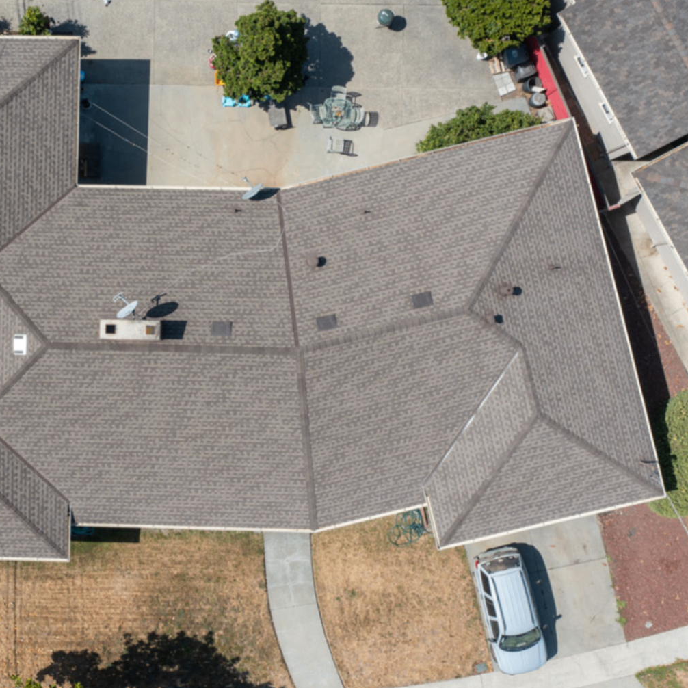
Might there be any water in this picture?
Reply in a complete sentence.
No, no water is visible.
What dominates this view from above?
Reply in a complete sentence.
The scene is dominated by buildings.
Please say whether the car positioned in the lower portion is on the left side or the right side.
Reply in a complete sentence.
The car positioned in the lower portion is on the right side of the image.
